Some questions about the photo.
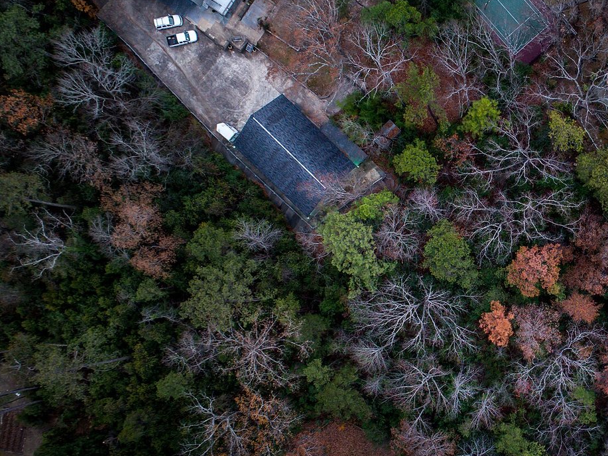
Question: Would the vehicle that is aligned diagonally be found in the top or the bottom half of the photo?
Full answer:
Seen from above, the vehicle that is aligned diagonally lies in the top half of the view.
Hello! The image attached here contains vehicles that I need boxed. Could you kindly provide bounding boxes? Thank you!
[213,121,239,144]
[167,29,200,47]
[154,13,184,30]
